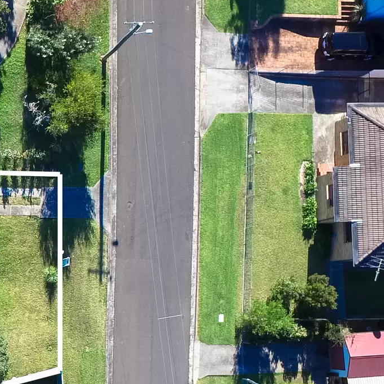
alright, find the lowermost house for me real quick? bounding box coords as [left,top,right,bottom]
[317,331,384,379]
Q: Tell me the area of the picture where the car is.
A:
top right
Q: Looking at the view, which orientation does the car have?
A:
horizontally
